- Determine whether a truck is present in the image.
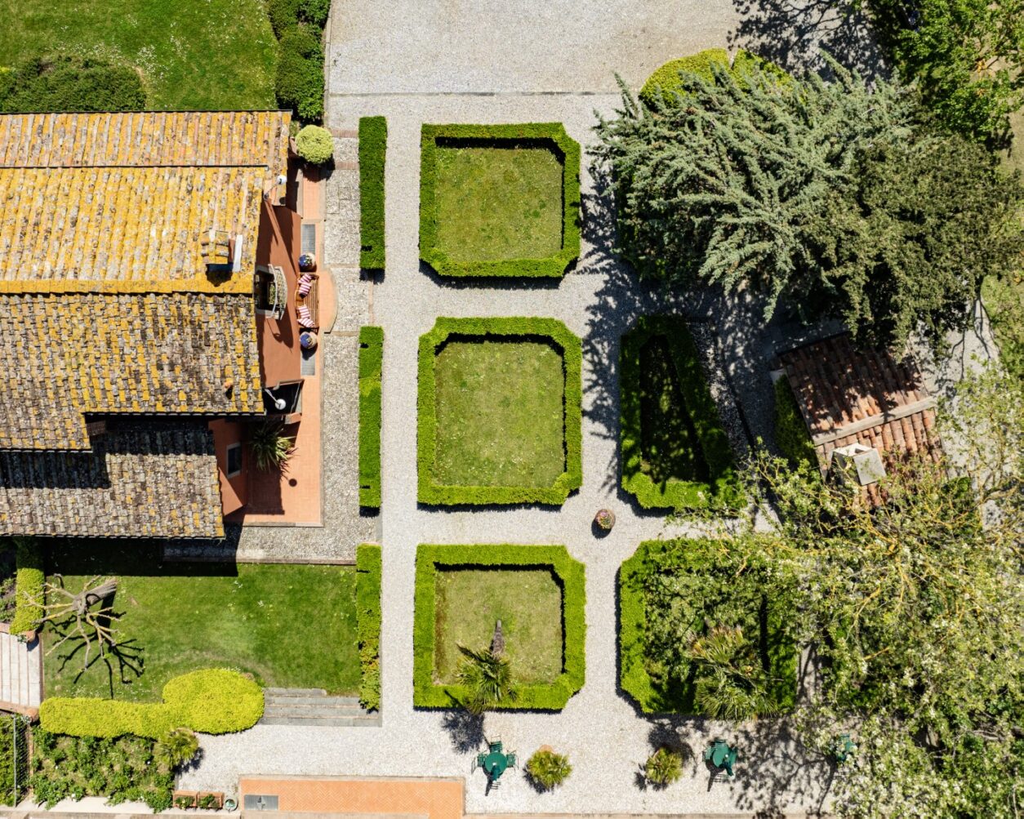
No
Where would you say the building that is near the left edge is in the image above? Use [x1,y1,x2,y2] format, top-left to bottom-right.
[0,109,307,540]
